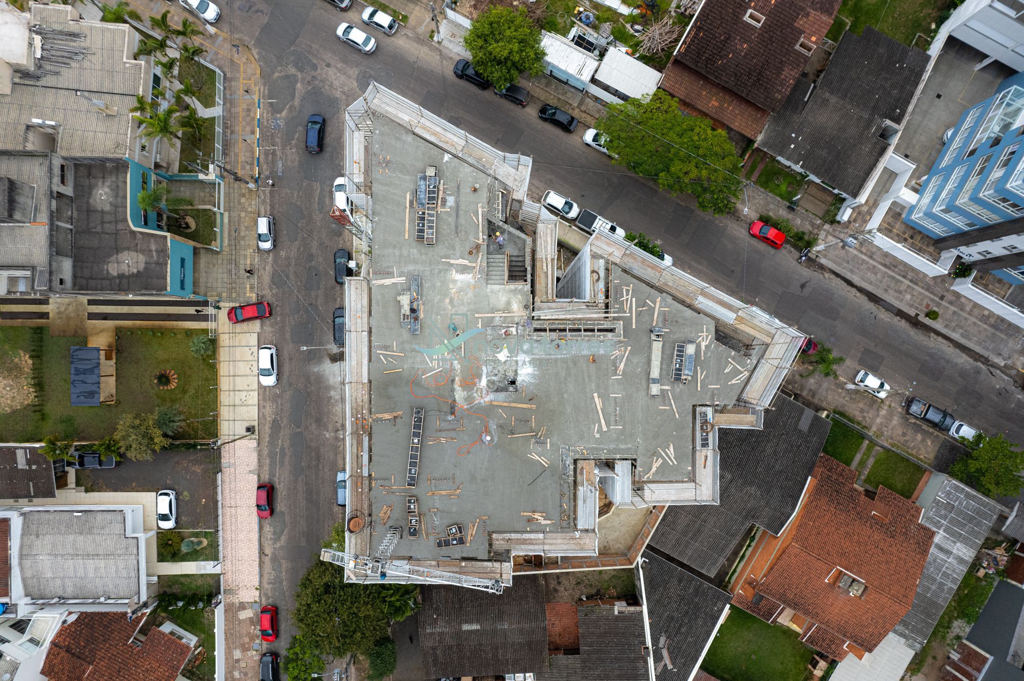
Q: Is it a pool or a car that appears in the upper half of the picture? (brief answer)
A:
car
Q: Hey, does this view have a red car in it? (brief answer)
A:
Yes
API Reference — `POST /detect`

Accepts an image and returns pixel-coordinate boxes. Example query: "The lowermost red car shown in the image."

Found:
[256,606,277,646]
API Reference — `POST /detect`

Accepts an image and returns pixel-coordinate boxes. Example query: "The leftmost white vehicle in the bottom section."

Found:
[151,491,174,532]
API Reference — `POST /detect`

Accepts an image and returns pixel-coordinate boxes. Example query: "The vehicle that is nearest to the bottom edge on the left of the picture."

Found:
[258,654,278,681]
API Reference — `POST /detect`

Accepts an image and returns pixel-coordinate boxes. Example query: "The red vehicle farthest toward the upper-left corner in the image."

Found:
[226,301,269,324]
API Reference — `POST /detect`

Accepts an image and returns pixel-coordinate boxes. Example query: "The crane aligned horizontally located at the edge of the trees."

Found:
[318,524,504,599]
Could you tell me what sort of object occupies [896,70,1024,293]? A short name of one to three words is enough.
building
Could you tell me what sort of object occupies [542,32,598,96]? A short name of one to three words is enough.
shed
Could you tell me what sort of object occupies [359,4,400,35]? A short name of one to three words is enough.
car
